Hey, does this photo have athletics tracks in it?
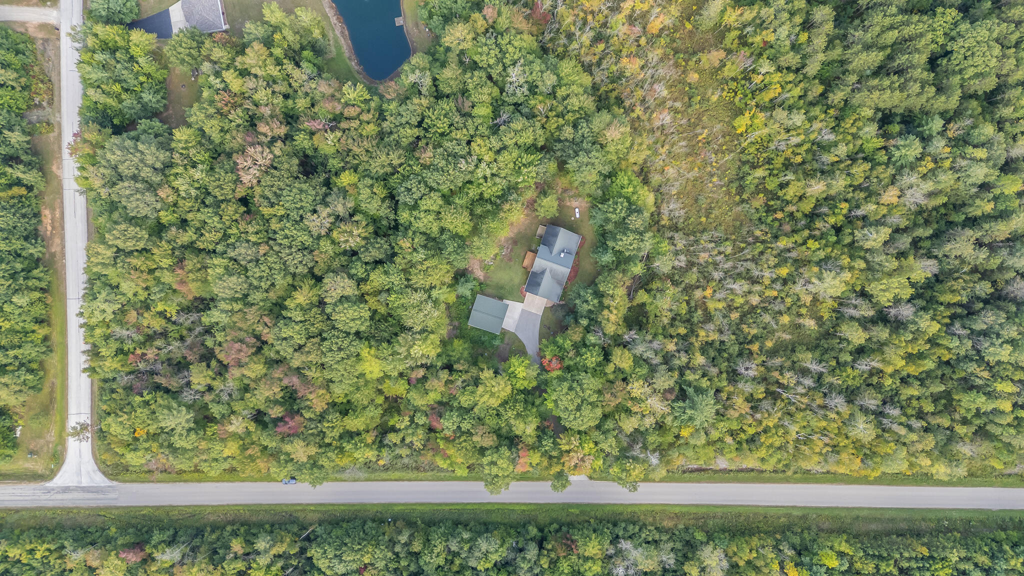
No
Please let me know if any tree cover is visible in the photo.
Yes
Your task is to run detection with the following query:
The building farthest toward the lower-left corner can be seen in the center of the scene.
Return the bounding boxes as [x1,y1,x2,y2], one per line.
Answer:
[468,294,509,335]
